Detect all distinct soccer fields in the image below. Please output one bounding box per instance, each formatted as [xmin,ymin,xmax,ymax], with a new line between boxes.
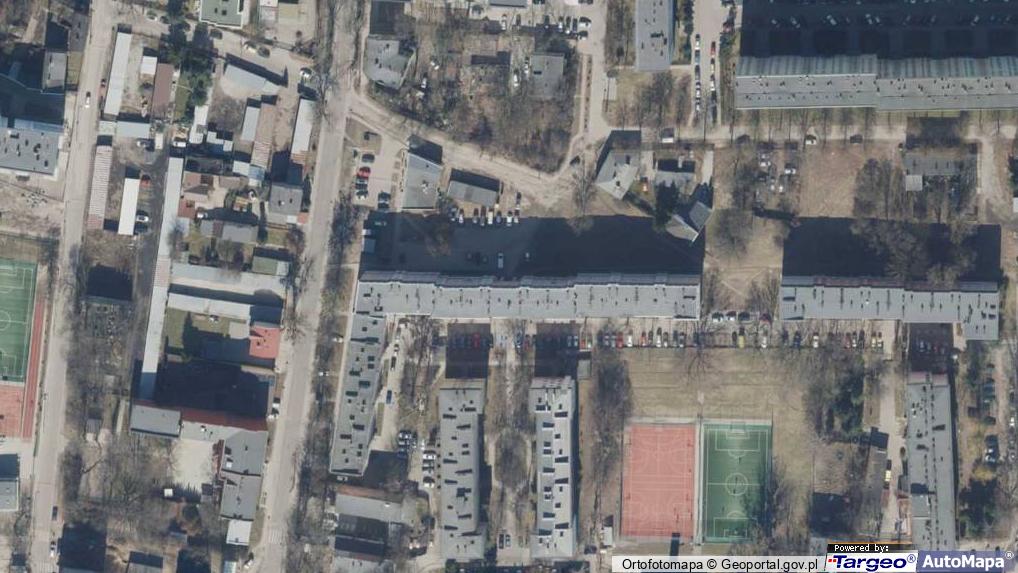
[703,423,772,541]
[0,262,38,382]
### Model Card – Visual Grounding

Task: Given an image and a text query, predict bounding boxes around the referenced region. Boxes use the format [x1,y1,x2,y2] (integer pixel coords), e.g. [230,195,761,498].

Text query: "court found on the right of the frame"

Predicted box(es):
[621,424,695,537]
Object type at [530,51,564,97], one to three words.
house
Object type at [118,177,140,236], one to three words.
shed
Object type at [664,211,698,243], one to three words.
house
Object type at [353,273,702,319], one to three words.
building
